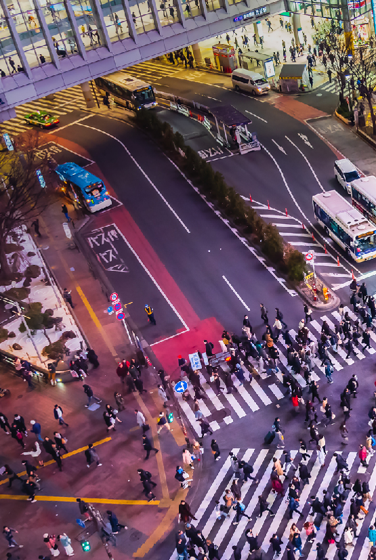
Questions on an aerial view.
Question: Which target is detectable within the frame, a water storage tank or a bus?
bus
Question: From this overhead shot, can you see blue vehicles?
Yes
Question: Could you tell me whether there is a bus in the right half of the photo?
Yes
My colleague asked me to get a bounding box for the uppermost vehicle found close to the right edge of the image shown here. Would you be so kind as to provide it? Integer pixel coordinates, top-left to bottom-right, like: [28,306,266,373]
[328,152,361,187]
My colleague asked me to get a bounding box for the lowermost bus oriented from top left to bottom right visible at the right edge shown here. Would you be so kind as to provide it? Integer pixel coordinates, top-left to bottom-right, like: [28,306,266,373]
[315,191,376,263]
